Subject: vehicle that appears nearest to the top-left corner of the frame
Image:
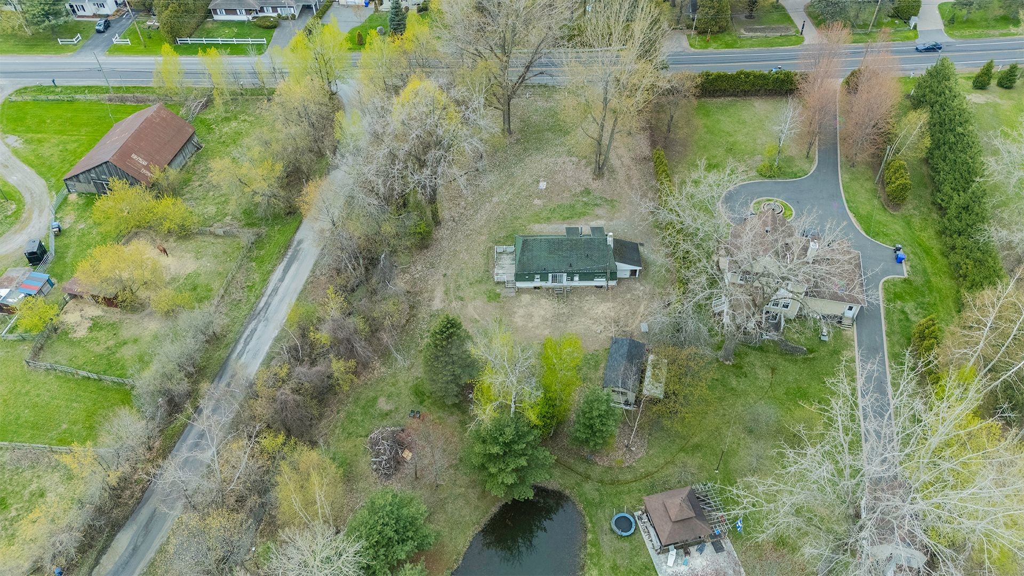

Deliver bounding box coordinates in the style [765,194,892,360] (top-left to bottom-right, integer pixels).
[89,18,115,34]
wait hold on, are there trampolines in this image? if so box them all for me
[611,505,637,535]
